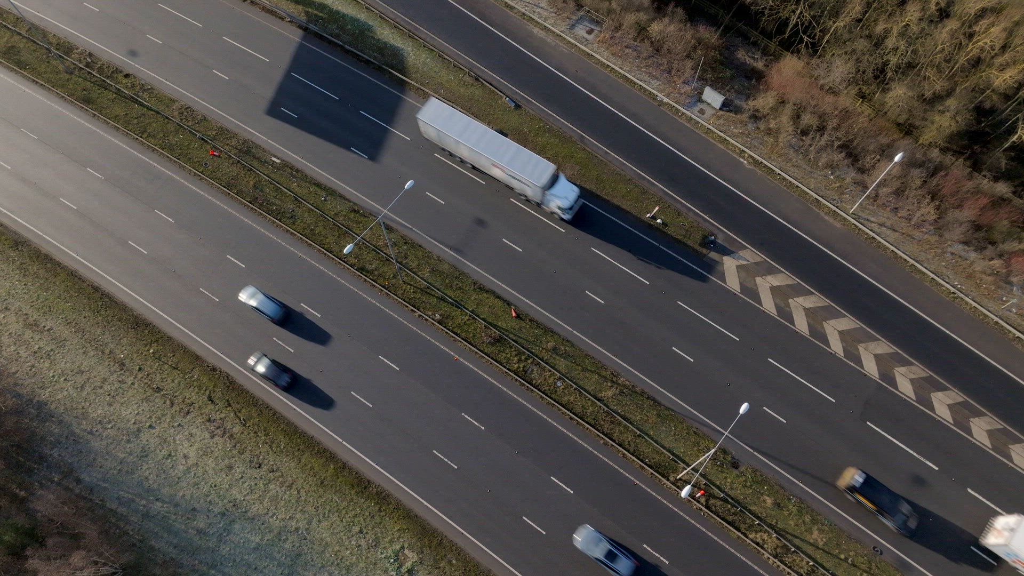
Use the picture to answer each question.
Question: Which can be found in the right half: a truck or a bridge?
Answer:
truck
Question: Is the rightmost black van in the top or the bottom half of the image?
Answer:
bottom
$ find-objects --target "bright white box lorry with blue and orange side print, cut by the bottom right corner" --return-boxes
[976,511,1024,571]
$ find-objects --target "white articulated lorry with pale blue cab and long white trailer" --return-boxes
[417,98,581,221]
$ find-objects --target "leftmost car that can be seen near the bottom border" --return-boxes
[578,526,636,576]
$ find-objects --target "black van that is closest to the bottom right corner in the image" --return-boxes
[838,468,910,527]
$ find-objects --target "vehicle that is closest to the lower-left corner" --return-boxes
[248,352,295,391]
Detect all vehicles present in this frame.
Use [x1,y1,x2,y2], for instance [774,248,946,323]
[248,352,295,391]
[578,526,636,576]
[838,468,910,527]
[976,511,1024,571]
[417,98,581,221]
[240,287,288,325]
